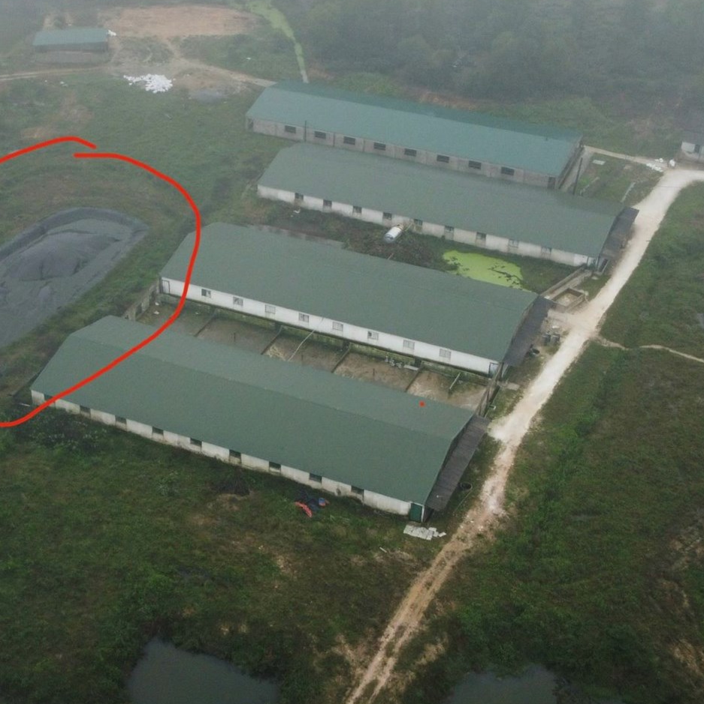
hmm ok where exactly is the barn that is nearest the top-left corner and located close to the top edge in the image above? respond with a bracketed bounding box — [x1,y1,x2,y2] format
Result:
[31,22,110,68]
